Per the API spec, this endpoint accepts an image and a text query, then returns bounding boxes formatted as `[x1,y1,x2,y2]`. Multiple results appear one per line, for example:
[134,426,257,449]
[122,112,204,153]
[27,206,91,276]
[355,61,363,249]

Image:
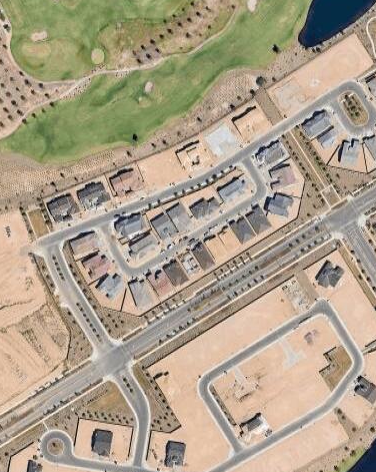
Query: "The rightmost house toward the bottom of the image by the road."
[354,375,376,404]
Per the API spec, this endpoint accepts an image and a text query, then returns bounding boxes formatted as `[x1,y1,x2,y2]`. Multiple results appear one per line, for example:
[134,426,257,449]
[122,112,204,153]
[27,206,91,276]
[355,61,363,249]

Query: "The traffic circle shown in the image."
[38,429,73,464]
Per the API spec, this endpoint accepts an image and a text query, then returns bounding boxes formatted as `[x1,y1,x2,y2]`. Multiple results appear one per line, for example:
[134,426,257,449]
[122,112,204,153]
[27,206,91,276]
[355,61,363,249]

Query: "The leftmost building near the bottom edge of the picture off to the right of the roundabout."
[89,428,114,460]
